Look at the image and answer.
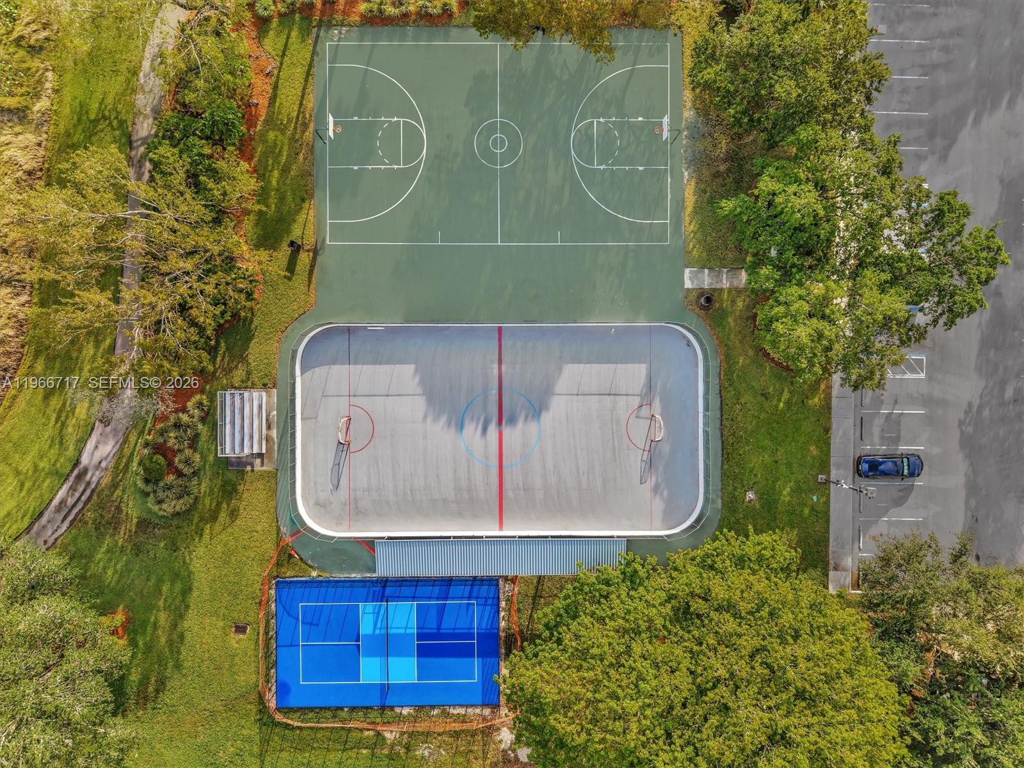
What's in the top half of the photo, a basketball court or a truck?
basketball court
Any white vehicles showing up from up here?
No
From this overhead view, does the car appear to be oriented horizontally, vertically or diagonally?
horizontally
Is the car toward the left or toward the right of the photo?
right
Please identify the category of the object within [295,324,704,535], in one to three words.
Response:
sports court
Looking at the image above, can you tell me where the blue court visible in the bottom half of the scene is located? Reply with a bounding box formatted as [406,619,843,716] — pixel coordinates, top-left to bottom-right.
[276,579,499,708]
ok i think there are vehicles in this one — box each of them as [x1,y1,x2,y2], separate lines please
[853,452,921,481]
